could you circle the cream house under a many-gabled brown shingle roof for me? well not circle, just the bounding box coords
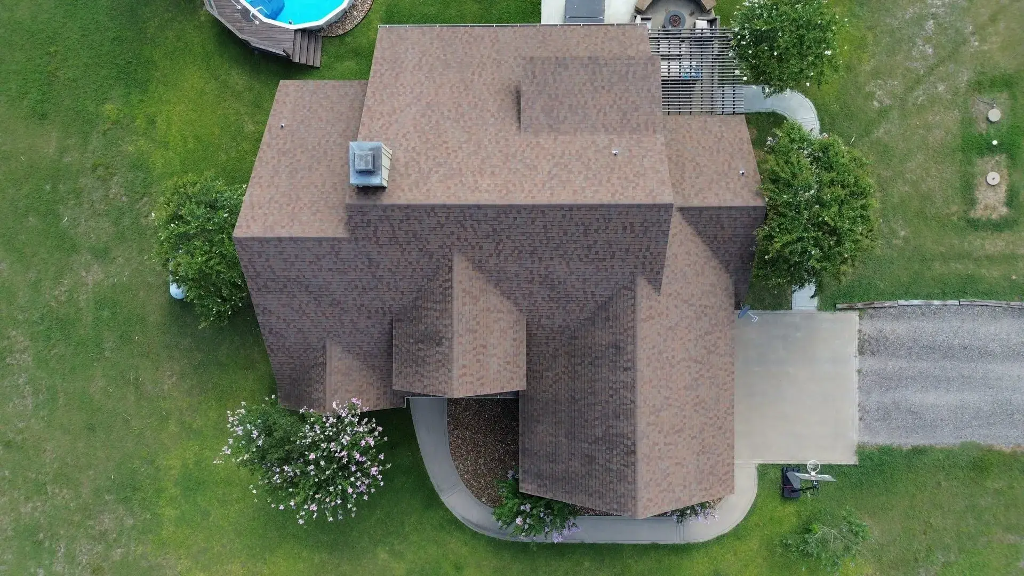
[233,21,767,521]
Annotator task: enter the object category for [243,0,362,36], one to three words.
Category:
swimming pool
